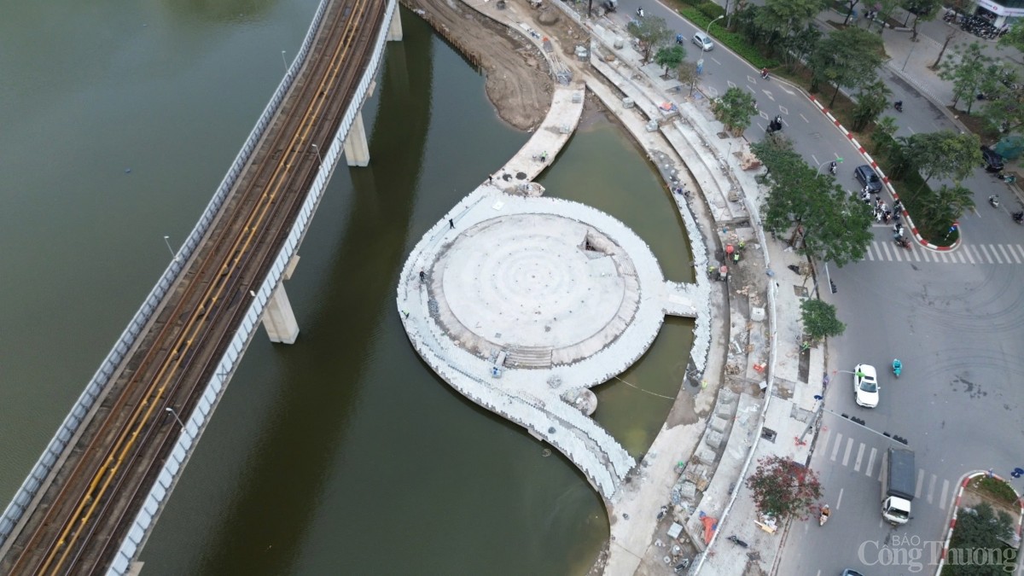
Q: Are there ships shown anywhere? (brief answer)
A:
No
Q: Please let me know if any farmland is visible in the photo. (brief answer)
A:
No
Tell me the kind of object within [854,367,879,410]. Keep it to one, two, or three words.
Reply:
car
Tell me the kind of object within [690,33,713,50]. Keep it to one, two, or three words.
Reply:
car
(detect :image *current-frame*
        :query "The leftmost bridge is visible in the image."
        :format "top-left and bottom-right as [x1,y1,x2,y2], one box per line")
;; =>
[0,0,401,576]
